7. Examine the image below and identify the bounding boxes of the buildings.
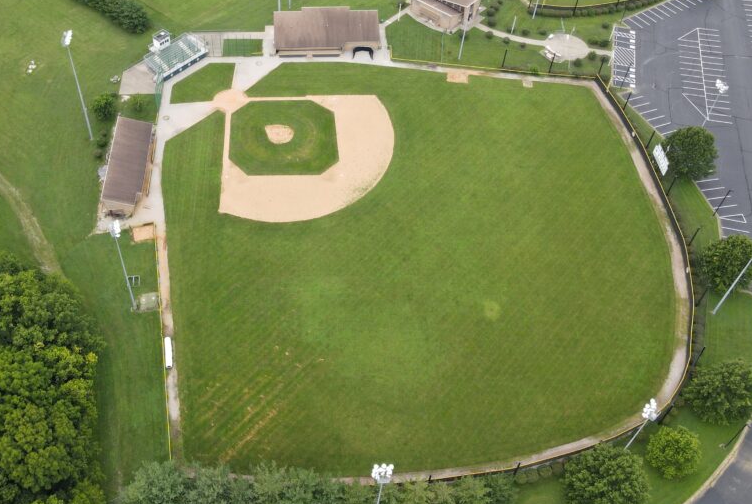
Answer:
[96,116,154,217]
[274,5,383,61]
[412,0,478,23]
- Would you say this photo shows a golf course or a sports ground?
sports ground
